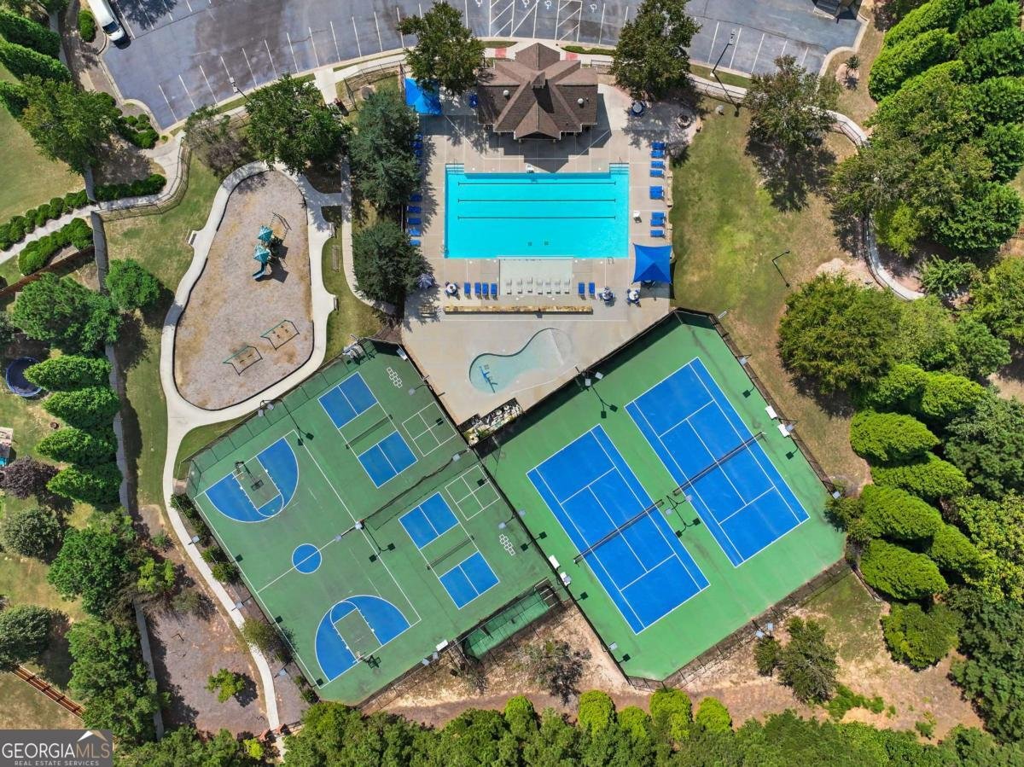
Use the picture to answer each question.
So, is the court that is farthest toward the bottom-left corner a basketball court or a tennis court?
basketball court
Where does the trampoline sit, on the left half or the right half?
left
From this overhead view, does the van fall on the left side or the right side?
left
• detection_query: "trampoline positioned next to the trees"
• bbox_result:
[0,357,39,396]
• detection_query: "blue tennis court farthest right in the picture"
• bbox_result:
[623,357,809,567]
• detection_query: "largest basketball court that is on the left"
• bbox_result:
[193,429,420,688]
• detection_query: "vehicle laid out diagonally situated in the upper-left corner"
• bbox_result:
[89,0,134,50]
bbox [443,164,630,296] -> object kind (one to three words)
swimming pool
